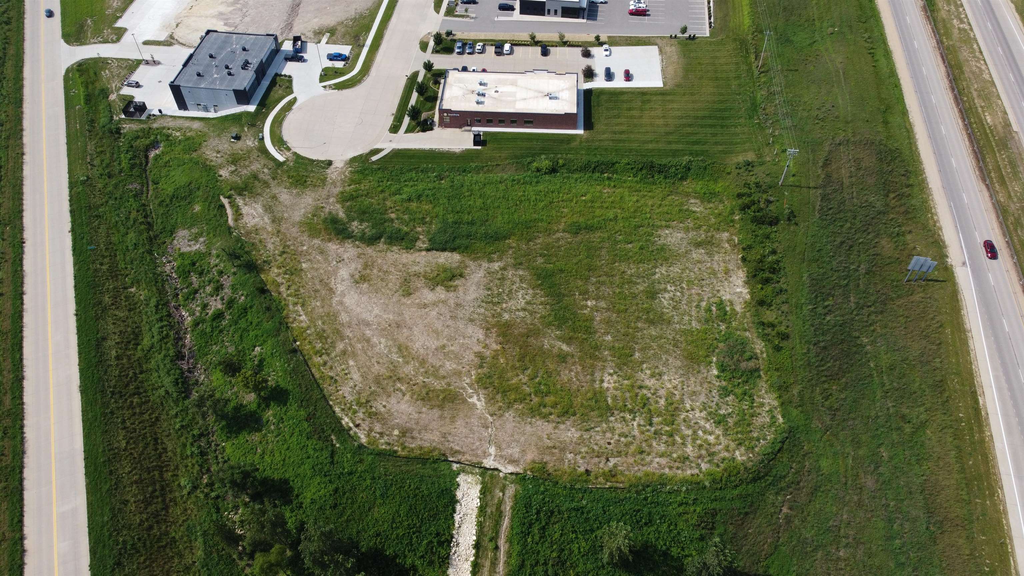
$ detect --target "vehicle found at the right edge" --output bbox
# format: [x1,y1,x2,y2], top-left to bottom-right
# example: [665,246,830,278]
[982,240,997,258]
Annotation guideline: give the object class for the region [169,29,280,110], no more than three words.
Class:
building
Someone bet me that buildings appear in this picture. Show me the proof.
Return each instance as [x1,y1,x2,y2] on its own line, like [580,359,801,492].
[438,68,578,131]
[169,29,280,110]
[519,0,587,19]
